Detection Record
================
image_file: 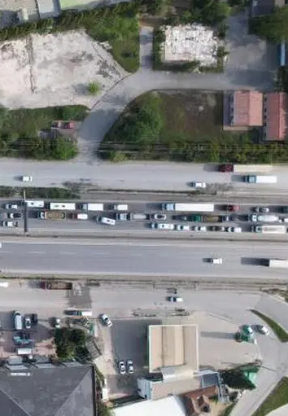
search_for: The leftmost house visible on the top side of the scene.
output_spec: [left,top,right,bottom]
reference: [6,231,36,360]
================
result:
[223,91,263,129]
